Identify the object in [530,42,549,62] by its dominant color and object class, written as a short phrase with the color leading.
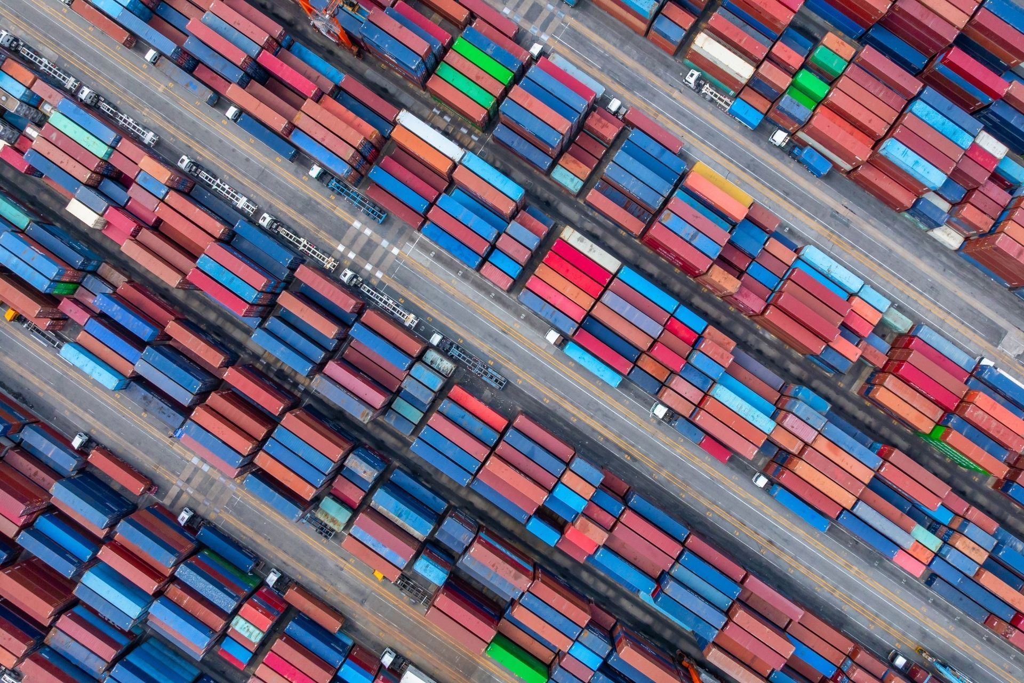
white vehicle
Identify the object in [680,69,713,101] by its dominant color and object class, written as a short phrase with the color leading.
white truck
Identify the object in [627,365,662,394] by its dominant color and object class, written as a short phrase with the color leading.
blue shipping container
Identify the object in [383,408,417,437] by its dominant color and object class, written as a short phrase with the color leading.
blue shipping container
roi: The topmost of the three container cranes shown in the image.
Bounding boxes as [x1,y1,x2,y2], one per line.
[294,0,373,58]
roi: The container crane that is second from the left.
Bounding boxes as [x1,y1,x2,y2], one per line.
[671,646,727,683]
